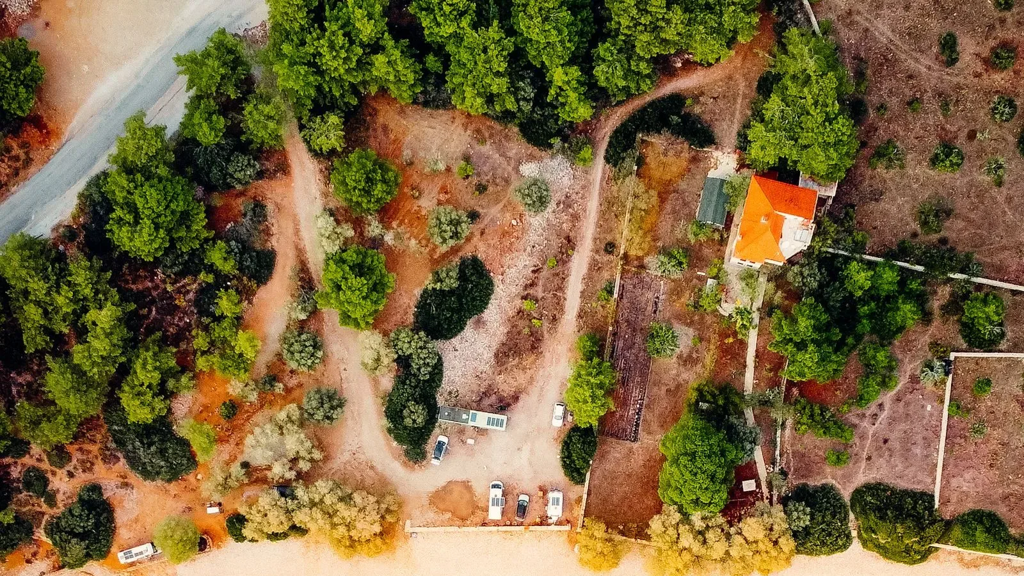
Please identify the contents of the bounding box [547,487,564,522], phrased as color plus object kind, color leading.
white camper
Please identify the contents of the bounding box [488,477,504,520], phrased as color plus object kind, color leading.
white vehicle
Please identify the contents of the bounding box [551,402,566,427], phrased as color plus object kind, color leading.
white car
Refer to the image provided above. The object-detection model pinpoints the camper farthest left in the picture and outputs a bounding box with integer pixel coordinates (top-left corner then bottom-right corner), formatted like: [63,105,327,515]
[116,536,166,564]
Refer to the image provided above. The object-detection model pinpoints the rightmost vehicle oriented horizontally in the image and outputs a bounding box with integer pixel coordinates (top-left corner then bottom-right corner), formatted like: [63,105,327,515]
[437,403,509,430]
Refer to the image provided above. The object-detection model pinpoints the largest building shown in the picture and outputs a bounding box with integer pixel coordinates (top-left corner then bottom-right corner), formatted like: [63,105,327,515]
[725,175,819,269]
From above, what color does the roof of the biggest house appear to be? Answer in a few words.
orange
